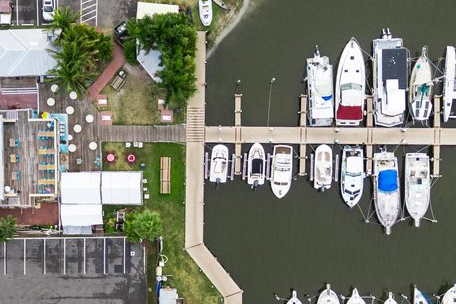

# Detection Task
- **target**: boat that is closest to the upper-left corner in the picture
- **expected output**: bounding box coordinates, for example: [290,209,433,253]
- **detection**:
[199,0,213,25]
